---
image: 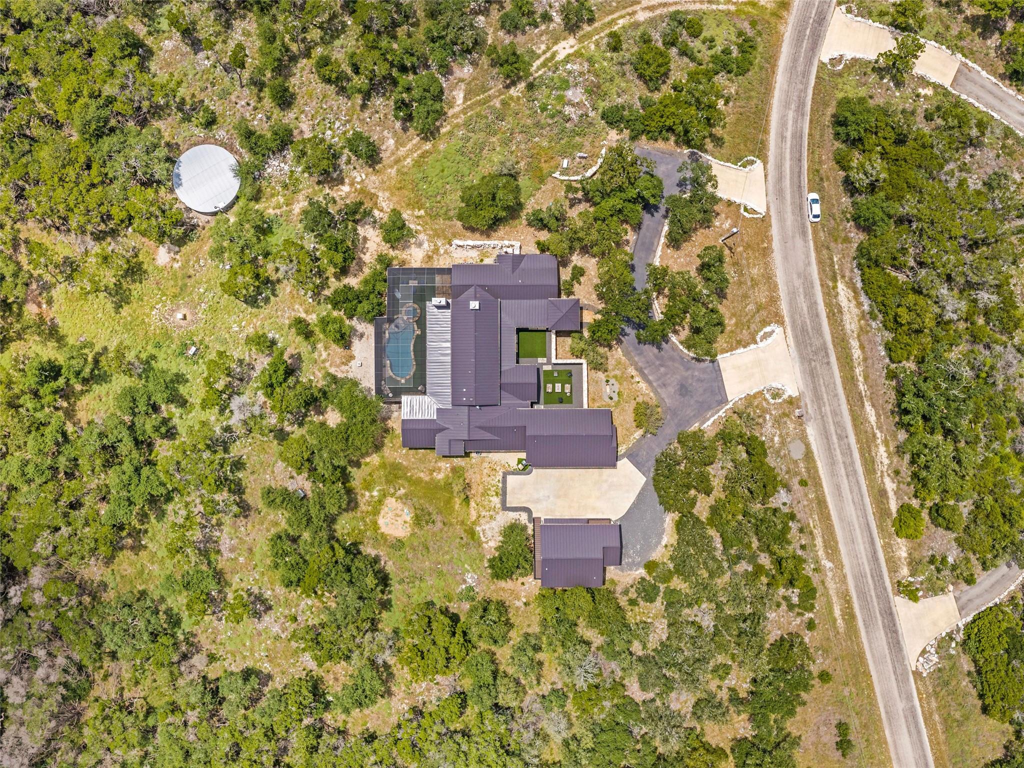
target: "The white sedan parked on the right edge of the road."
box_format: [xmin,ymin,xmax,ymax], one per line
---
[806,193,822,223]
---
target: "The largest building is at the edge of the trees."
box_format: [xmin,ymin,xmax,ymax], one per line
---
[401,254,616,468]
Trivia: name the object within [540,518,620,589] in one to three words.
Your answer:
shed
